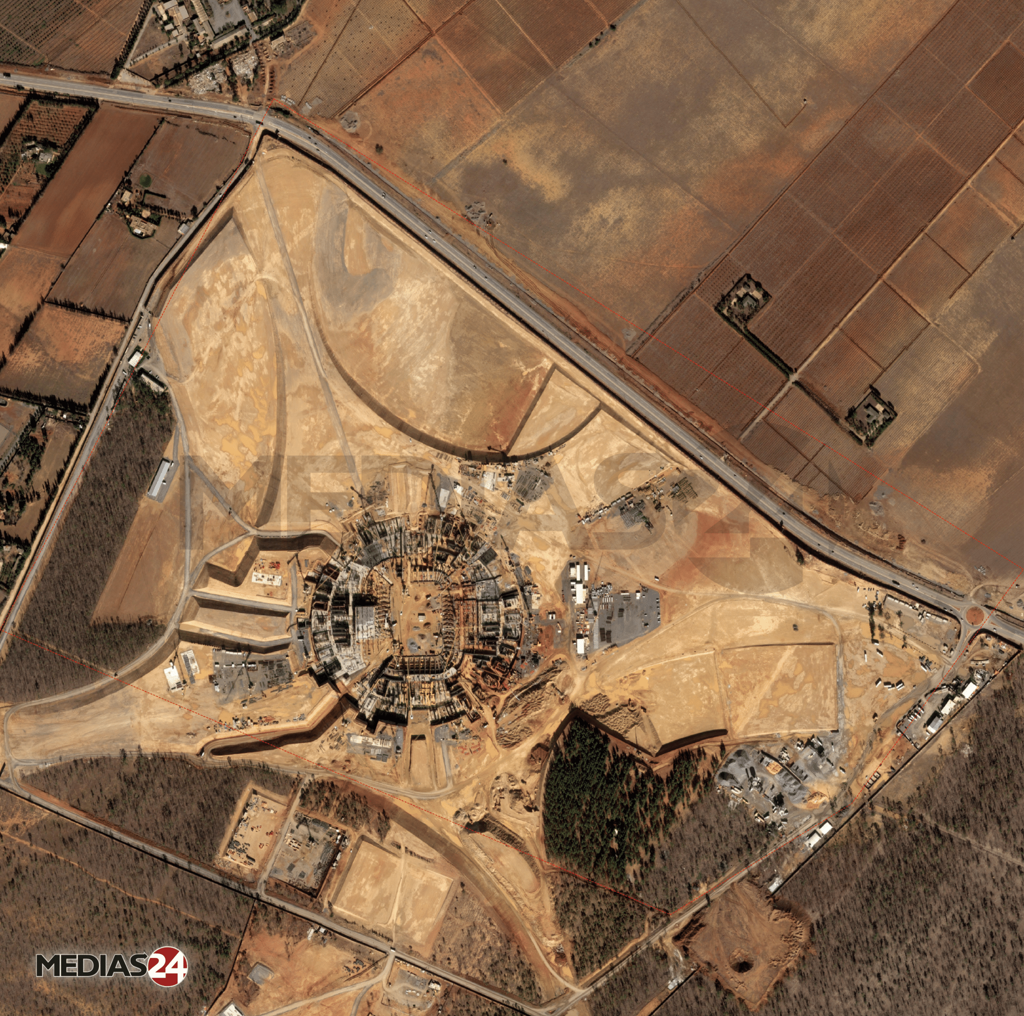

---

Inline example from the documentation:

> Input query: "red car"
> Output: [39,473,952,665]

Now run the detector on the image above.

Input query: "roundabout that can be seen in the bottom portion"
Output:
[952,601,999,635]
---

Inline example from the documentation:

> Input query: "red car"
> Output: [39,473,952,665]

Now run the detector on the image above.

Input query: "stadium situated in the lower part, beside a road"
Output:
[314,510,526,729]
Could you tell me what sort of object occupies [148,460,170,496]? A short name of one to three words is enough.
building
